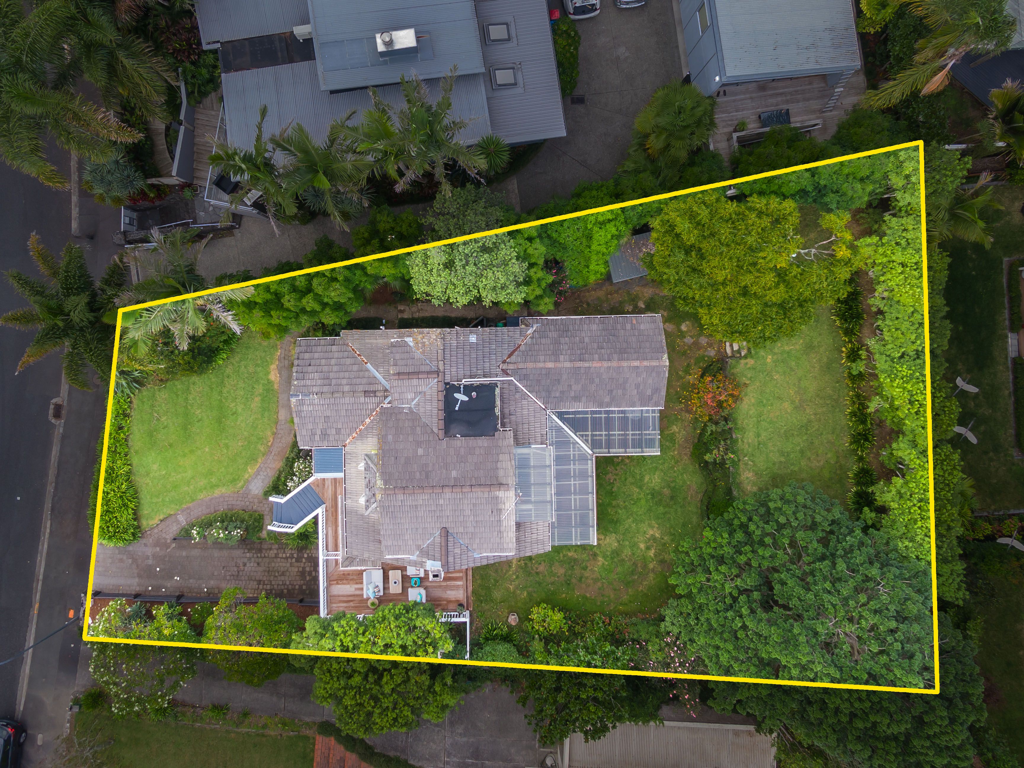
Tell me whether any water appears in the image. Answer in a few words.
No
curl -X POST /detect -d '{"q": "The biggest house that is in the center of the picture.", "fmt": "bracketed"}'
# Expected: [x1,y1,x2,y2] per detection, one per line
[289,314,670,581]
